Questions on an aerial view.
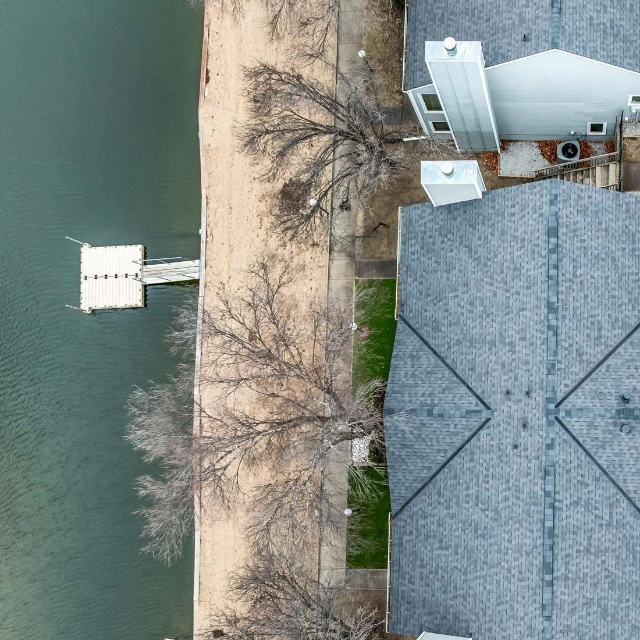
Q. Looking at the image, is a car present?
No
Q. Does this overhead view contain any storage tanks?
No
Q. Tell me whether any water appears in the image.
Yes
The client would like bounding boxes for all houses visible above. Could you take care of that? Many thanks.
[403,0,640,154]
[383,154,640,640]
